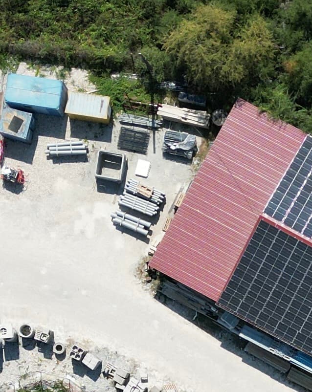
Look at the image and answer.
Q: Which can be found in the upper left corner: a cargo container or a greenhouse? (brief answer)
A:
cargo container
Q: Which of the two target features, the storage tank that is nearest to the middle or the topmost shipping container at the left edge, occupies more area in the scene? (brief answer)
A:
the shipping container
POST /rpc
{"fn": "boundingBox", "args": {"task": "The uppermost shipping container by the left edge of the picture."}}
[6,73,67,115]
